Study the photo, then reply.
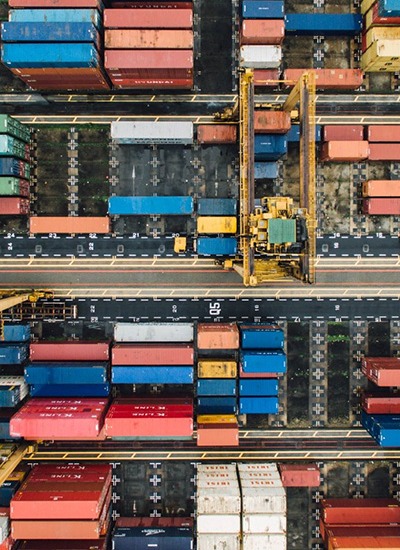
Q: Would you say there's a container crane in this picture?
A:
Yes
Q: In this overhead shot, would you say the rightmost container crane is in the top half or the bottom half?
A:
top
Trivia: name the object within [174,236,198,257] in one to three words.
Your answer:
vehicle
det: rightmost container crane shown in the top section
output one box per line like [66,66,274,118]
[212,70,318,285]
